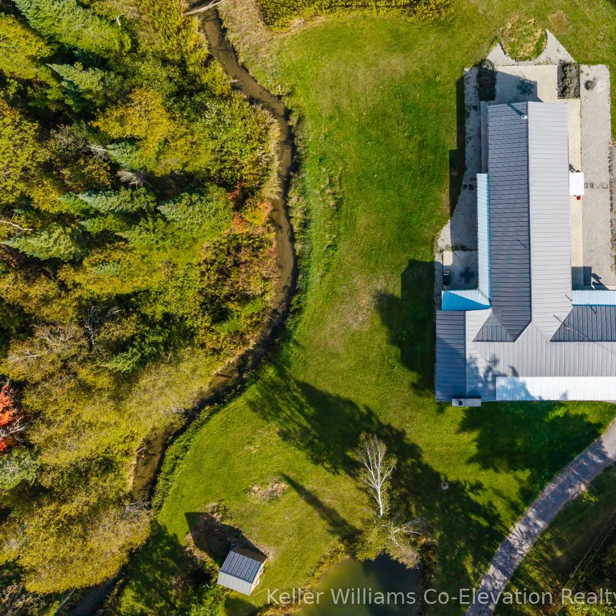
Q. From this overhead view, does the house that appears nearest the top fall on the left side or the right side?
right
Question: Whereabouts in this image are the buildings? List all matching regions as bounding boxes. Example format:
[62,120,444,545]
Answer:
[211,541,269,603]
[435,99,616,410]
